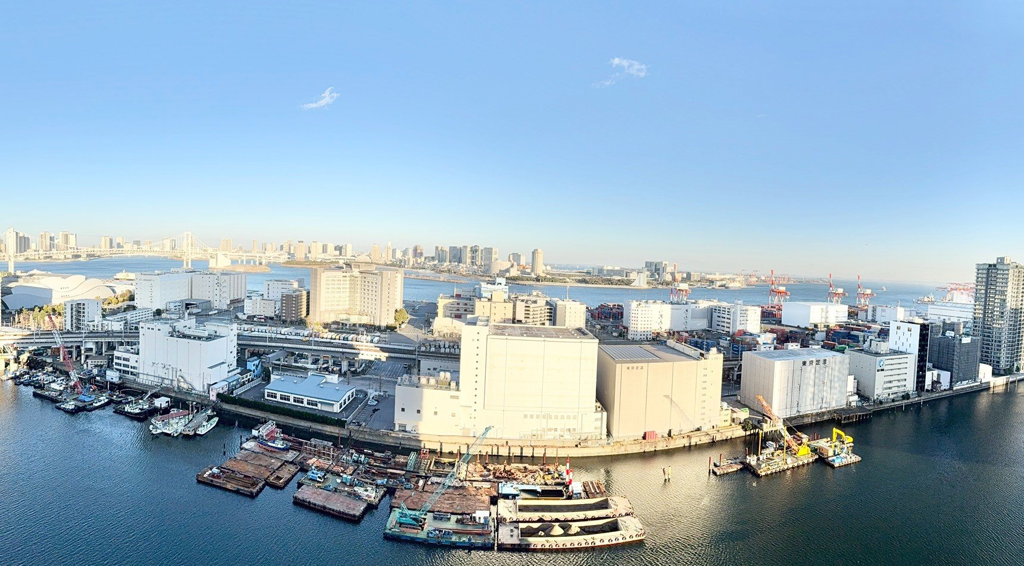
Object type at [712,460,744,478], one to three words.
ship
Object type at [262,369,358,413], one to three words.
building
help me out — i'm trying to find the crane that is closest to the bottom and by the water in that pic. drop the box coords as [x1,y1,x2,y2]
[392,426,494,531]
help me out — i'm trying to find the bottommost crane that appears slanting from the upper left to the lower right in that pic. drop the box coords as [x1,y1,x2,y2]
[755,395,819,455]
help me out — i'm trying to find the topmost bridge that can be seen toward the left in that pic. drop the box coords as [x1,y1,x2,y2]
[0,227,309,272]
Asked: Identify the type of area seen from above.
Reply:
port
